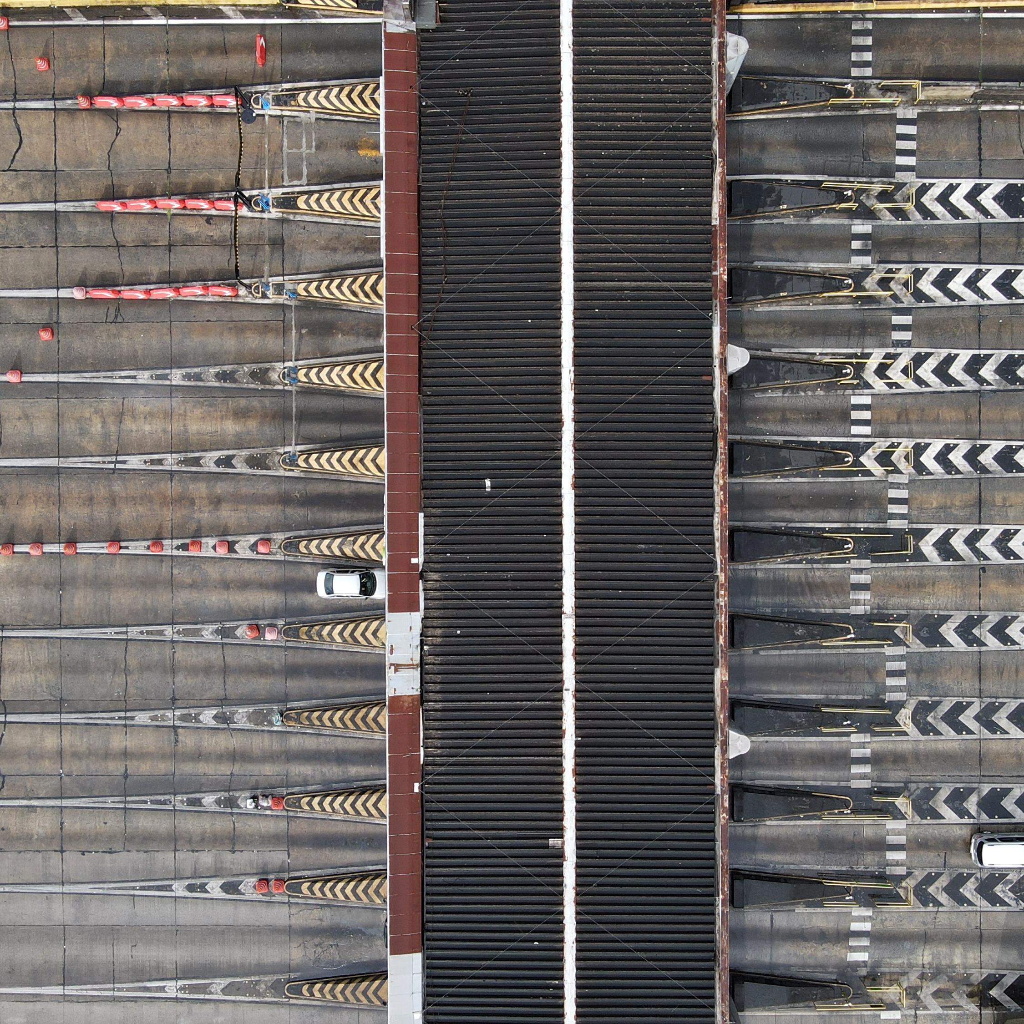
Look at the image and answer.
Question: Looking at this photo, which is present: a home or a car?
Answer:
car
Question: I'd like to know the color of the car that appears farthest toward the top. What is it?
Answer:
white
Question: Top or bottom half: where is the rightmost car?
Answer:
bottom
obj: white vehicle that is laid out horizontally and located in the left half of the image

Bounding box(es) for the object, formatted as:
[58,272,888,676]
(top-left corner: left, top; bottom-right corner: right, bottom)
[317,566,385,600]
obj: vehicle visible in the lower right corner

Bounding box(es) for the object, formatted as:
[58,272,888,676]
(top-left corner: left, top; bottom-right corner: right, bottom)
[967,830,1024,868]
